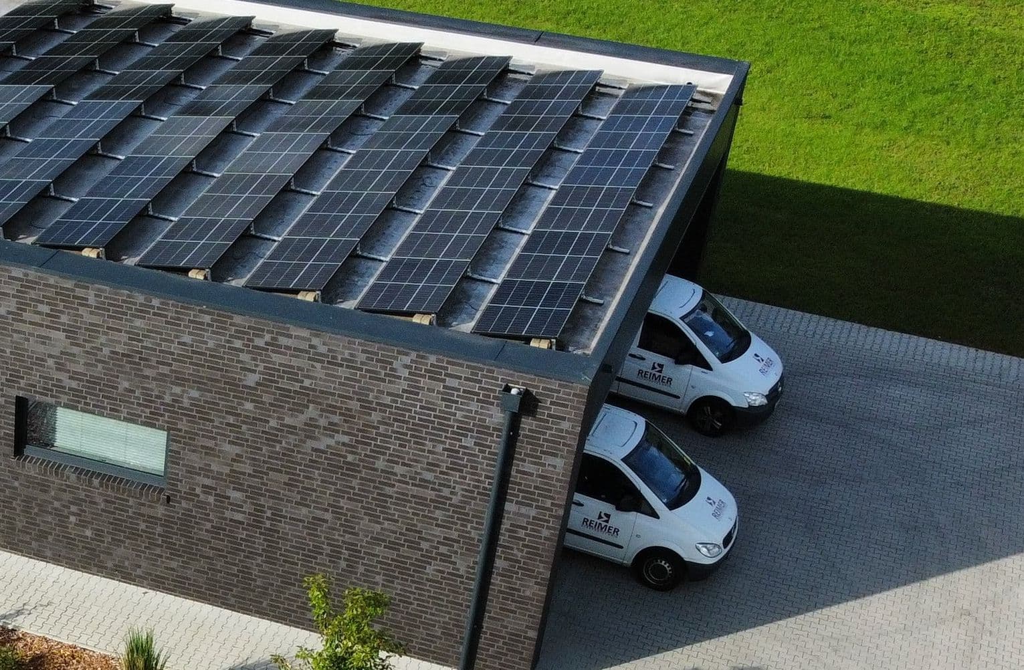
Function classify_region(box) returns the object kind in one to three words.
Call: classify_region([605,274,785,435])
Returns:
van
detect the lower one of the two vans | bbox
[563,404,741,588]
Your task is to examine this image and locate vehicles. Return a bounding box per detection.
[563,404,741,588]
[605,274,785,435]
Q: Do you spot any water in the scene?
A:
No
